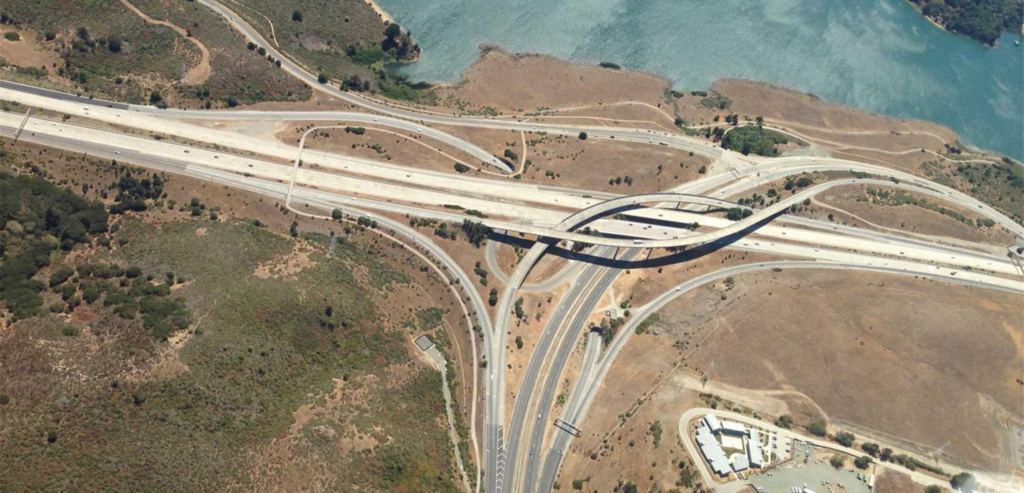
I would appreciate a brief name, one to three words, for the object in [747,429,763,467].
building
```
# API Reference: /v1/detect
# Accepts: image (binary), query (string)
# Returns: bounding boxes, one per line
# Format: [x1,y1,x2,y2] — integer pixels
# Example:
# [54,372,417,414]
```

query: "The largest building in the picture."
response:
[696,427,731,476]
